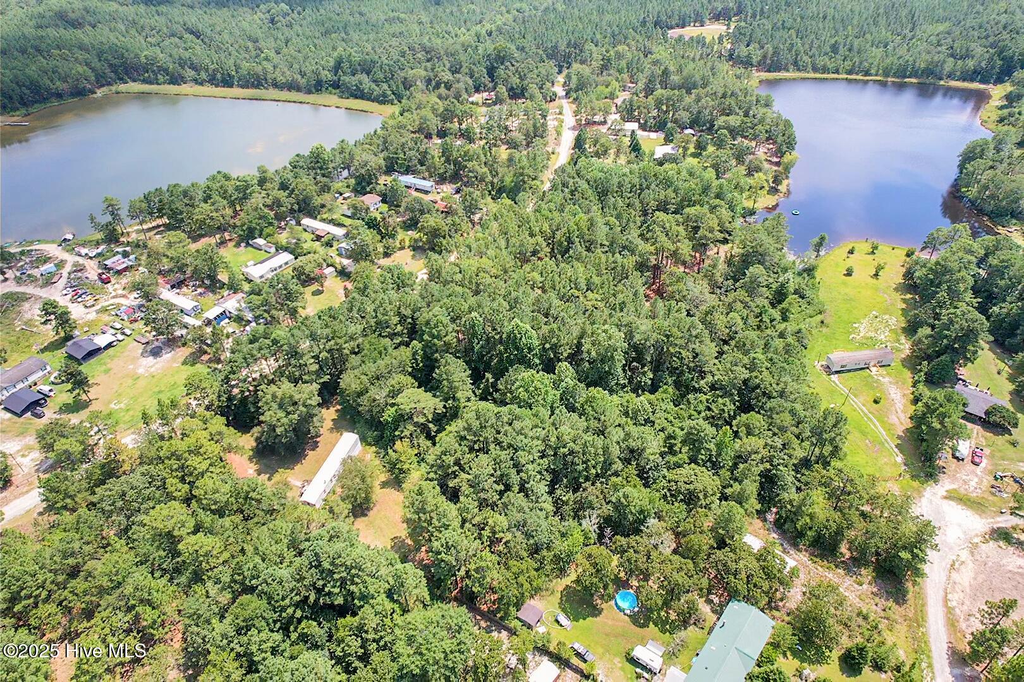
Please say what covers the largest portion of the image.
trees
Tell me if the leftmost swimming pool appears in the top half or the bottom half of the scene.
bottom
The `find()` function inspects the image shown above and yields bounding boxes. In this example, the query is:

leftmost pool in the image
[613,591,639,620]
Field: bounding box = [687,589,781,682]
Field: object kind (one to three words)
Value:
house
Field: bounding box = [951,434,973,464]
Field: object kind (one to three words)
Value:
vehicle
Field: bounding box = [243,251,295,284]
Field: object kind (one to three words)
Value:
house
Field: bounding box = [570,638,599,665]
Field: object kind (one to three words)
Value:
truck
